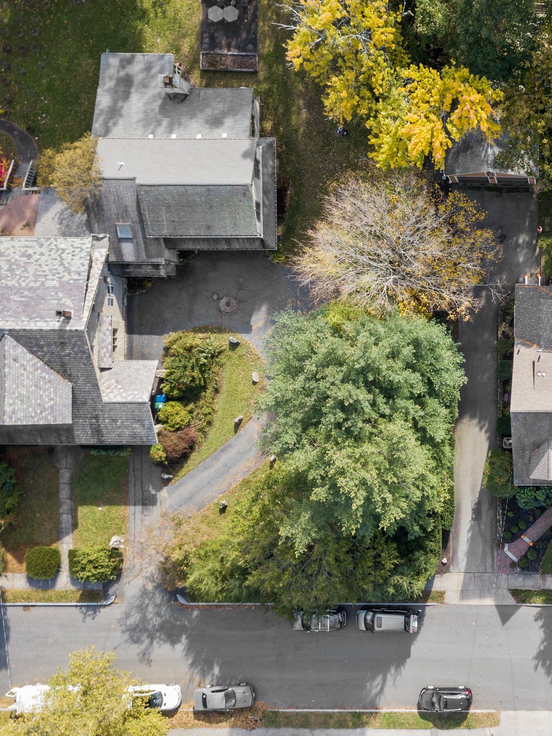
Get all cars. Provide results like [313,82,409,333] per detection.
[191,682,257,715]
[418,686,473,717]
[121,684,184,715]
[290,606,349,636]
[355,606,418,637]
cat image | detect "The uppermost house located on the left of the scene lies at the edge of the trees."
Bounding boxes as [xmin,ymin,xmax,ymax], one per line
[89,52,285,278]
